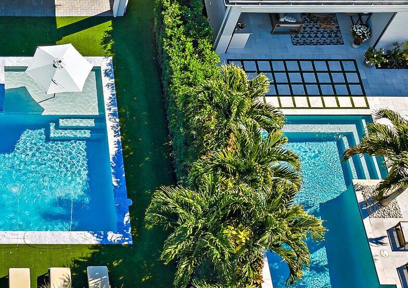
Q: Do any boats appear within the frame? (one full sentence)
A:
No, this view has no boat in it.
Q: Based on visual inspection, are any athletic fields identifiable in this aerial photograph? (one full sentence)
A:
No, the scene contains no athletic field.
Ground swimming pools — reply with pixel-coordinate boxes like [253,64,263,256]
[259,108,406,288]
[0,56,131,244]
